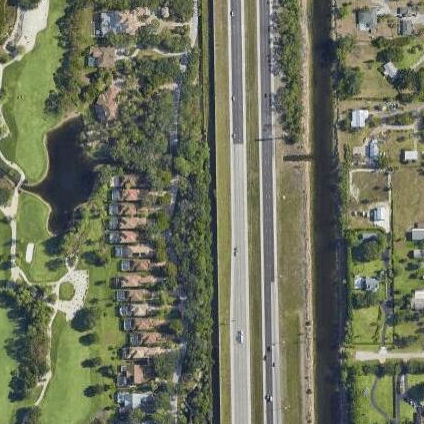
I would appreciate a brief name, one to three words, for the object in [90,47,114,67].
house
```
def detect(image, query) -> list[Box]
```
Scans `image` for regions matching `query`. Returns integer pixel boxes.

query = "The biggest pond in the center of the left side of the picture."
[26,115,95,235]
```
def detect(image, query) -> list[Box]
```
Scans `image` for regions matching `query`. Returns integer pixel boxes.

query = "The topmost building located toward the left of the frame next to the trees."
[123,10,148,33]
